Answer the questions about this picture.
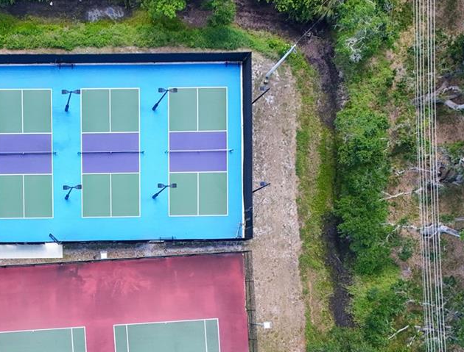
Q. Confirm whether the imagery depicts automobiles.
No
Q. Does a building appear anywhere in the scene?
No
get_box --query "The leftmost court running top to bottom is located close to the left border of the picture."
[0,89,54,219]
